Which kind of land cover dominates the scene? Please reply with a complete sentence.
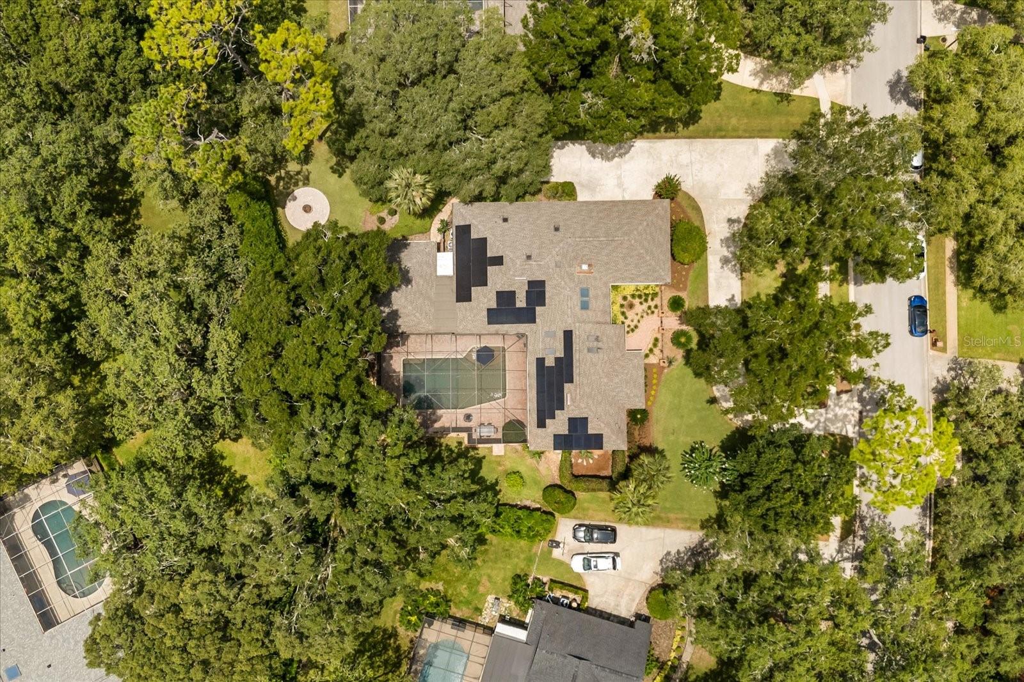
The largest share of the image is taken up by trees.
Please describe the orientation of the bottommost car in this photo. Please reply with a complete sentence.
The bottommost car is laid out from left to right.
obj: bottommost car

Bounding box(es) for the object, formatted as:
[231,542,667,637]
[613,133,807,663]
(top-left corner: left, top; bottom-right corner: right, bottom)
[573,553,619,574]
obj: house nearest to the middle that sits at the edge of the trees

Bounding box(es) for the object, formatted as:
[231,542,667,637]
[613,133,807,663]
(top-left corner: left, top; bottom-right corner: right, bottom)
[366,199,672,450]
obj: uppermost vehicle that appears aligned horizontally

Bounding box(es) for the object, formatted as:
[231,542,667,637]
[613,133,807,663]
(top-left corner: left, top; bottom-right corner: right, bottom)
[573,524,617,545]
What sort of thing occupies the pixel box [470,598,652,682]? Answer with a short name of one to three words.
house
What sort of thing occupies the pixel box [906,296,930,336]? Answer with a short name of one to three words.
car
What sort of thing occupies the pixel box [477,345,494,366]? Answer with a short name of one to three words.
umbrella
